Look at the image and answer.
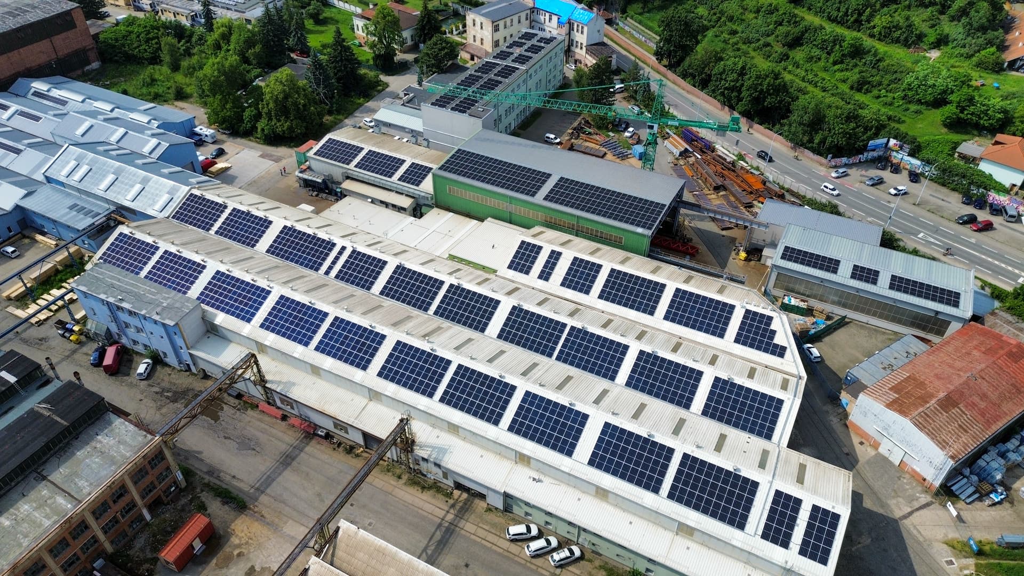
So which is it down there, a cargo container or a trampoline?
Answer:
cargo container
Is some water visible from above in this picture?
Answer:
No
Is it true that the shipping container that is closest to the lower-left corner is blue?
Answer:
No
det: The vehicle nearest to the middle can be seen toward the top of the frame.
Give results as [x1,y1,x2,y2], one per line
[543,132,561,144]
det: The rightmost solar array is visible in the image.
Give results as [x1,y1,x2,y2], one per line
[889,274,962,309]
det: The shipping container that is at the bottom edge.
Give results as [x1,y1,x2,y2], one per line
[154,509,218,572]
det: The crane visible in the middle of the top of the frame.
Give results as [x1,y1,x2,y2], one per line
[427,84,738,174]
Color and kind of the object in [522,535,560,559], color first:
white car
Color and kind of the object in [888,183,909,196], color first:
white vehicle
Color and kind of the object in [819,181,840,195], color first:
white car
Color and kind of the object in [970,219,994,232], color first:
red vehicle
